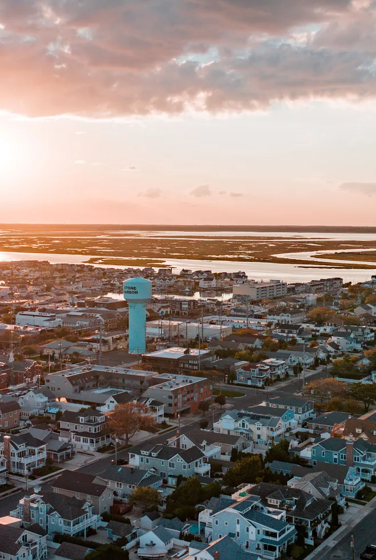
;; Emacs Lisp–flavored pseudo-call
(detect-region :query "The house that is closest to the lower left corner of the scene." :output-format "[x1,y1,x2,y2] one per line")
[0,521,51,560]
